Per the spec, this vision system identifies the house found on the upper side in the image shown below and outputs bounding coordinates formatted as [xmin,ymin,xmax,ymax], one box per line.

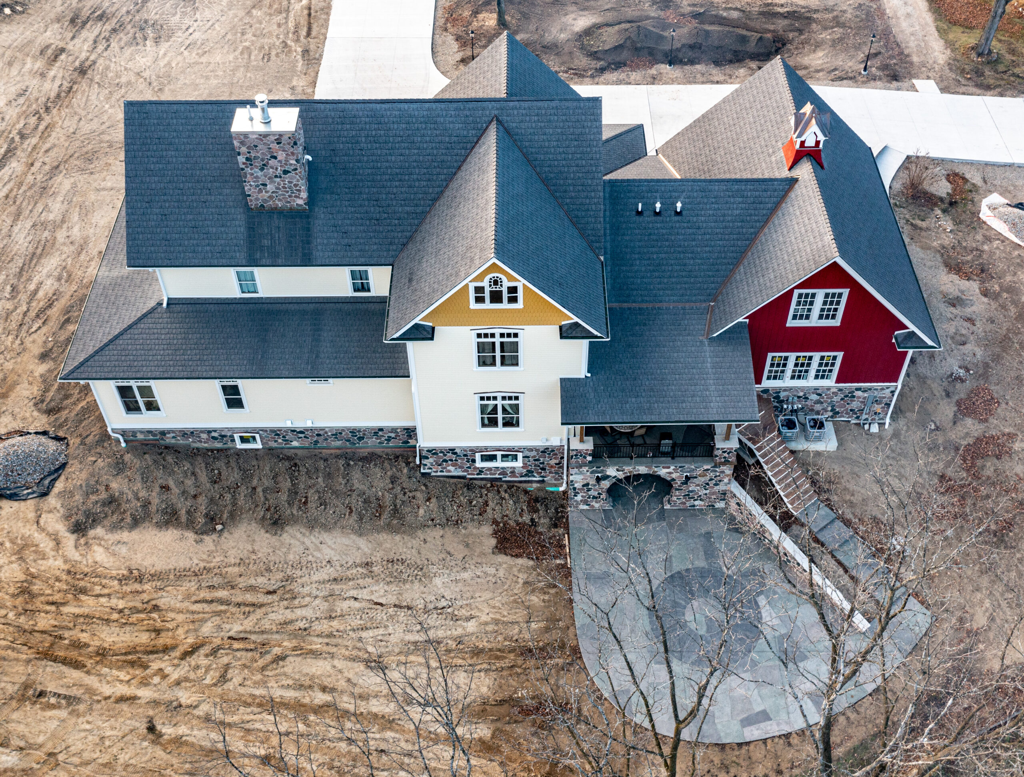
[53,30,947,509]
